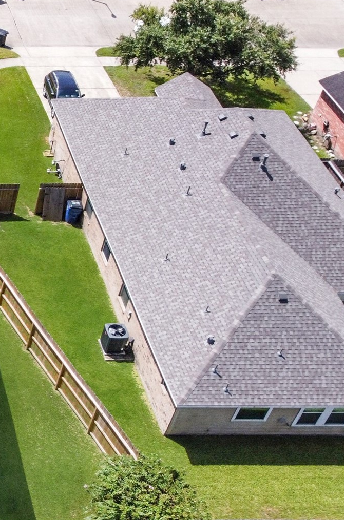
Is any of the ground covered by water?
No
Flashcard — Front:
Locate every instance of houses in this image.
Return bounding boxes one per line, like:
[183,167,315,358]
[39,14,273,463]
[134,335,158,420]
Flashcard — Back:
[50,70,344,439]
[314,71,344,161]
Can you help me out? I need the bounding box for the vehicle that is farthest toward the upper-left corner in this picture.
[40,59,84,99]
